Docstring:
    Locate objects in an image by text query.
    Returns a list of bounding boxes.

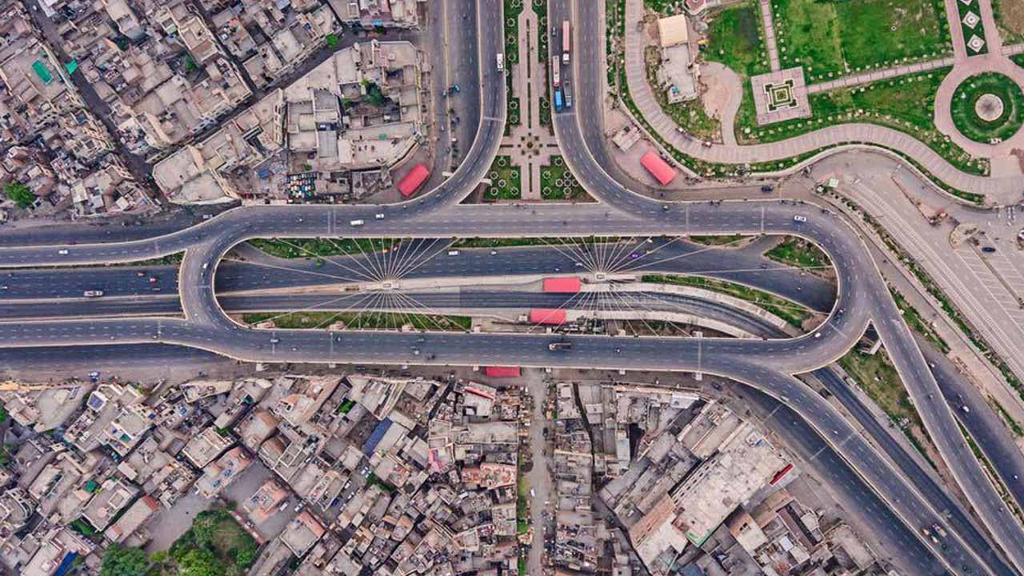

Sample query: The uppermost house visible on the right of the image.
[655,14,689,52]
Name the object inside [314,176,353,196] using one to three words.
house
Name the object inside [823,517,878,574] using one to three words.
house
